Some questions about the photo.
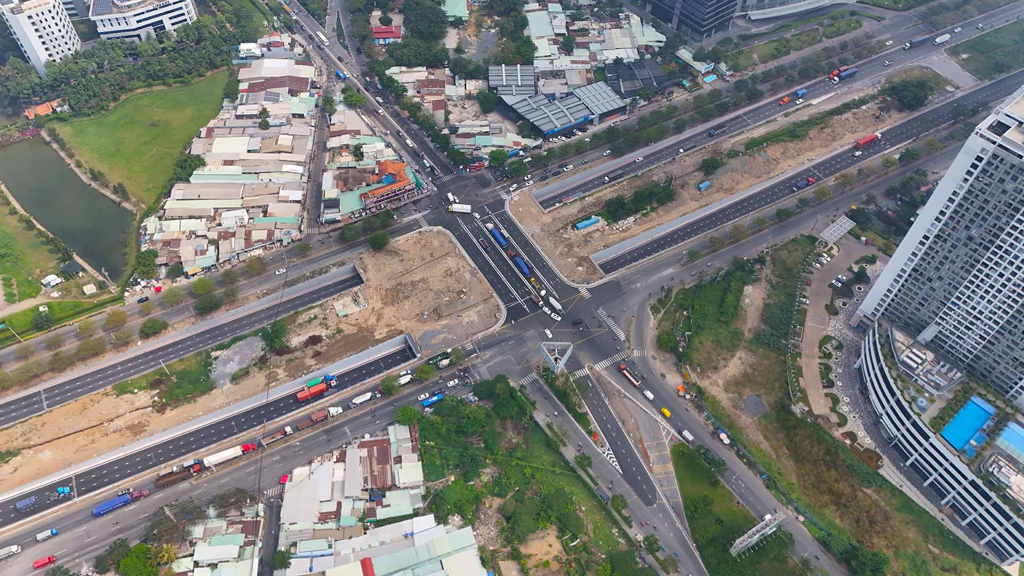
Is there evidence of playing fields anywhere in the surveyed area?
Yes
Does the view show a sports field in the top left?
Yes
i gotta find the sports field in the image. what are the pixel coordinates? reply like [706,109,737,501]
[51,70,230,205]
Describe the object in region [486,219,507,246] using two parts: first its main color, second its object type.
blue truck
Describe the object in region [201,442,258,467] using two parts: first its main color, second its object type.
white truck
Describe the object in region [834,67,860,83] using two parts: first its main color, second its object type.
blue vehicle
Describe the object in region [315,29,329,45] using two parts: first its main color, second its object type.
white vehicle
